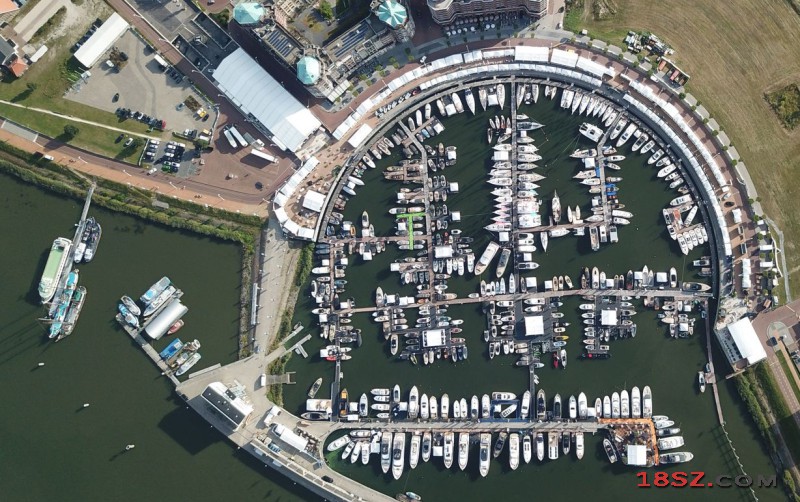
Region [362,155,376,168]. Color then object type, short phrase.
white boat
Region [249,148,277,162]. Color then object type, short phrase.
white vehicle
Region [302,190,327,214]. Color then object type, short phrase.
white tent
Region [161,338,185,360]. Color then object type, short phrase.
blue ship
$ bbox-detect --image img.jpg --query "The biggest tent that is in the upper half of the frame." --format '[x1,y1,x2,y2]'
[212,48,324,158]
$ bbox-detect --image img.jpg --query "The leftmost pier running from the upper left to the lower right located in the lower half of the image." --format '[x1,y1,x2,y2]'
[115,313,181,387]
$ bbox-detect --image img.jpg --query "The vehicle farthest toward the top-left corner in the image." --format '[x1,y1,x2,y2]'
[29,45,49,62]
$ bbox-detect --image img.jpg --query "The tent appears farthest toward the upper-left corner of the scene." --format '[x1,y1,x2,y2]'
[74,12,132,69]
